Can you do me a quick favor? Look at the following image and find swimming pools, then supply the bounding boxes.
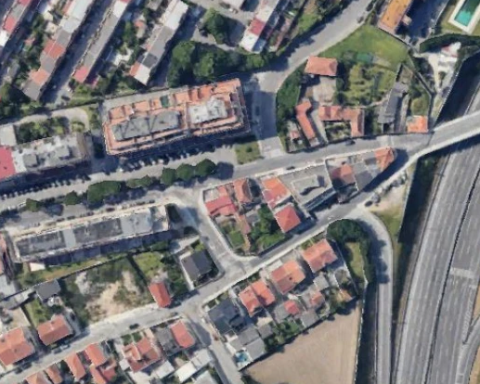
[236,350,250,364]
[446,0,480,31]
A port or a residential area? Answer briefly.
residential area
